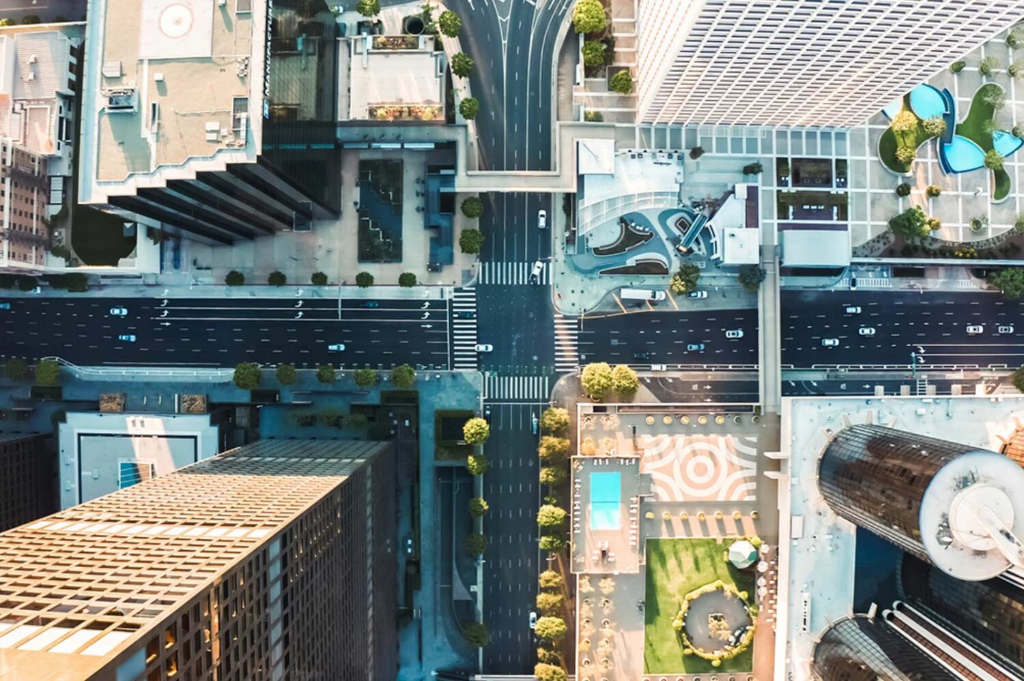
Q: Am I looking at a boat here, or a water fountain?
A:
water fountain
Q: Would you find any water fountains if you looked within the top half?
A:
Yes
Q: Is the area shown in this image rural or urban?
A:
urban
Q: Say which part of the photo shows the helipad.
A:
top left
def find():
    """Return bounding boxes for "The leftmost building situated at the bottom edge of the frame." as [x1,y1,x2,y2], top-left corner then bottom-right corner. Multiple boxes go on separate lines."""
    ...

[0,440,394,681]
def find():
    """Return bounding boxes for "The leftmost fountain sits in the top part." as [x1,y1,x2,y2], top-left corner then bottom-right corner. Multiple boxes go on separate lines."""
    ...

[425,162,456,264]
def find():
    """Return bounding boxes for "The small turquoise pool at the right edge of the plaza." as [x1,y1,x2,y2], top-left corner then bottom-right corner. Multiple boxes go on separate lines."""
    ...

[992,129,1024,160]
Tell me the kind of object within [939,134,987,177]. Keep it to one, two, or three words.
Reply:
swimming pool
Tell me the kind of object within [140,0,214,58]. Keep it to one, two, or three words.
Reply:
helipad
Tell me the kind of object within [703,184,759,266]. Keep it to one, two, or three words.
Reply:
building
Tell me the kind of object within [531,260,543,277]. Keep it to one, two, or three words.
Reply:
vehicle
